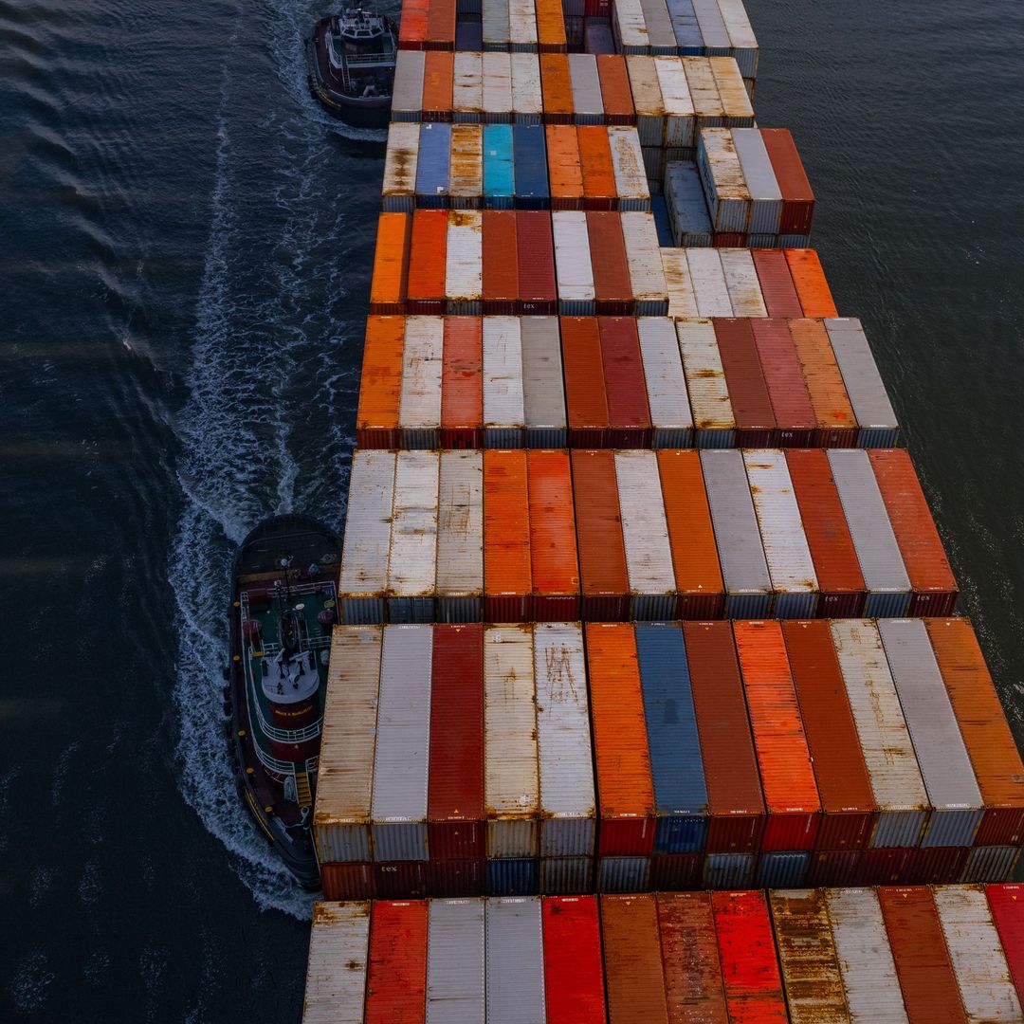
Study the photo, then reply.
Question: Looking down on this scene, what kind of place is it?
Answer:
port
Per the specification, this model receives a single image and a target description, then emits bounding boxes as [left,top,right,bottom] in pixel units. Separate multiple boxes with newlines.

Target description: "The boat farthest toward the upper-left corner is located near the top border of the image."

[309,0,400,131]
